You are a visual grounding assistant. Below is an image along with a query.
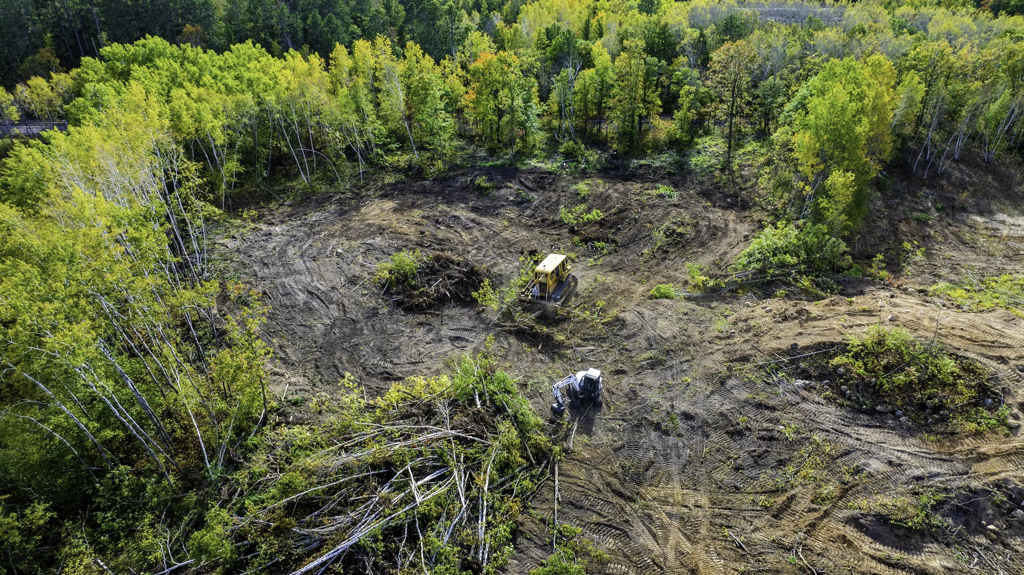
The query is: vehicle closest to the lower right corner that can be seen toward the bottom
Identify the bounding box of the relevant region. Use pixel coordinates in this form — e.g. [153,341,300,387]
[545,365,607,422]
